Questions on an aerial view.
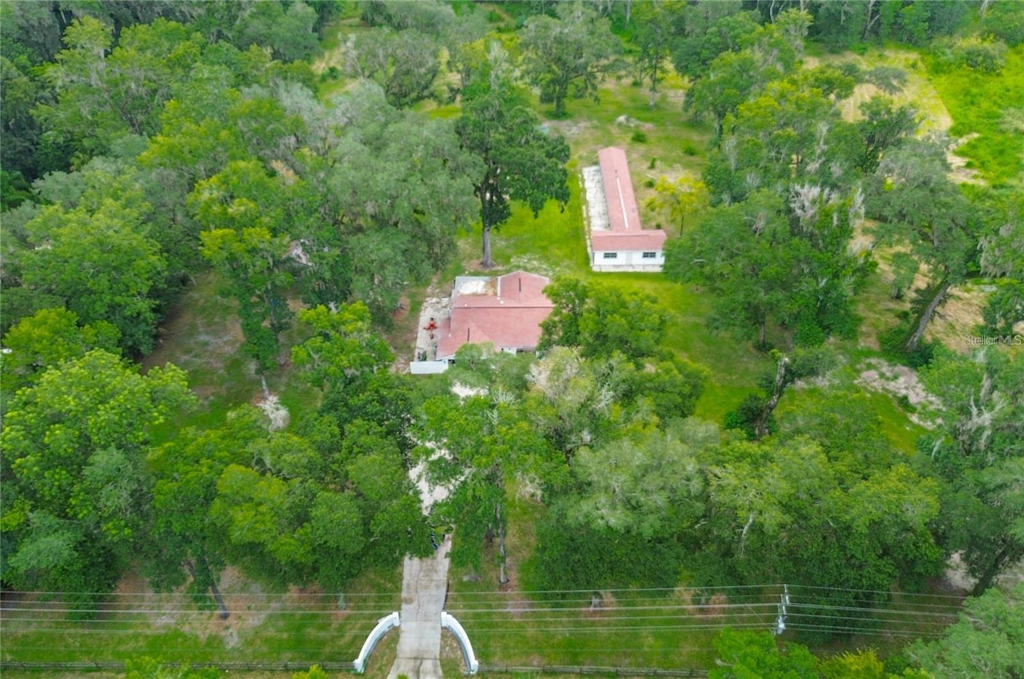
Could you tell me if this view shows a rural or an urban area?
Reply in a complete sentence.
From above, the setting appears rural.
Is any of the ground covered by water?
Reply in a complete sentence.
No, no water is visible.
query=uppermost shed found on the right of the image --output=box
[590,147,669,265]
